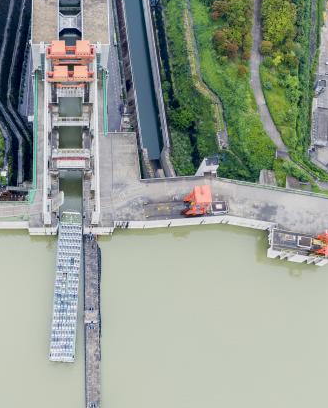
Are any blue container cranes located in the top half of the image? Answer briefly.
No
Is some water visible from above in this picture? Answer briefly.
Yes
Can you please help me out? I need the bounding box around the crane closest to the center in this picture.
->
[181,184,217,211]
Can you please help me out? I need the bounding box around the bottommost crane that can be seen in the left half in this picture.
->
[42,63,99,97]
